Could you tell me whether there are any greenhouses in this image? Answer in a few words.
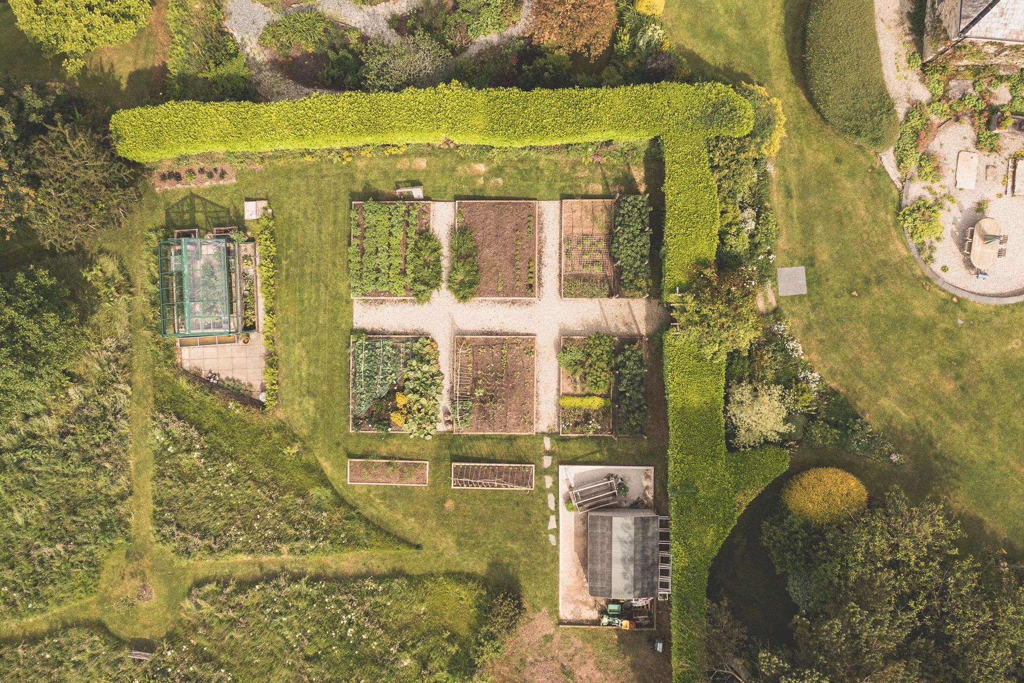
Yes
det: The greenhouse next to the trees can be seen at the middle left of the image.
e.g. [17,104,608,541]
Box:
[158,235,239,339]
